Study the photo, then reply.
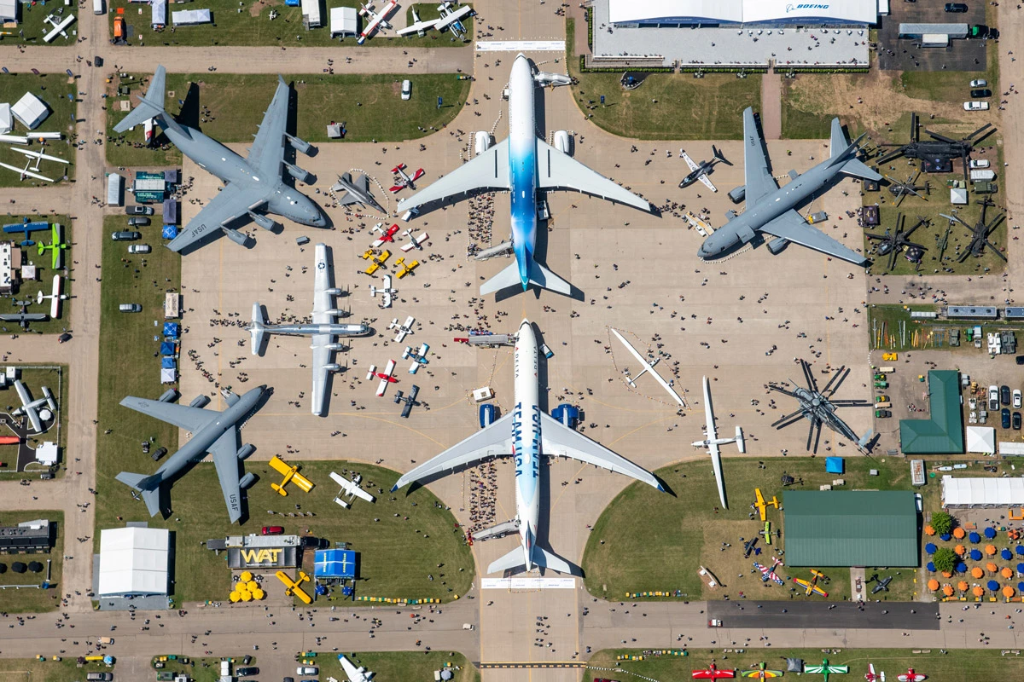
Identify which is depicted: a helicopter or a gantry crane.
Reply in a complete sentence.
Visible in the photo is a helicopter.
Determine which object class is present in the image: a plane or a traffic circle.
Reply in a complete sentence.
Visible in the photo is a plane.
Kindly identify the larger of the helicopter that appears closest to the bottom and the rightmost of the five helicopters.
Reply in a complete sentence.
Of the two, the helicopter that appears closest to the bottom is larger and the rightmost of the five helicopters is the smaller one.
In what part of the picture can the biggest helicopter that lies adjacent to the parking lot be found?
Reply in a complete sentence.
You can find the biggest helicopter that lies adjacent to the parking lot in the top right area of the picture.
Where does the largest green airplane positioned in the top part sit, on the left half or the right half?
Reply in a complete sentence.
The largest green airplane positioned in the top part sits on the left side.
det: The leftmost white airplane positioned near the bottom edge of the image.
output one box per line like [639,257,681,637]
[334,652,373,682]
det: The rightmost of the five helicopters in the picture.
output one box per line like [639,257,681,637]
[952,193,1007,262]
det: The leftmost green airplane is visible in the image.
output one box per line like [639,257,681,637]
[37,222,68,267]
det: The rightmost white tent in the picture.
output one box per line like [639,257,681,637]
[941,479,1024,507]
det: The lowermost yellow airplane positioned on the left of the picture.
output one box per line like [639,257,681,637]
[277,572,309,602]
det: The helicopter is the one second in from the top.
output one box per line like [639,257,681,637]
[885,168,937,204]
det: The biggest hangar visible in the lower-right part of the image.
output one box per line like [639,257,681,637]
[782,490,917,569]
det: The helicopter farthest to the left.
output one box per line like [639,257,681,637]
[767,357,867,454]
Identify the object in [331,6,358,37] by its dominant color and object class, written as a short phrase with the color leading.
white tent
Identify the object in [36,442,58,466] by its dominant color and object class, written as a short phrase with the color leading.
white tent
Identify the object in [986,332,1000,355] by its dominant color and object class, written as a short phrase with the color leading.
white vehicle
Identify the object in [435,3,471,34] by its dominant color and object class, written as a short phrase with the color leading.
white airplane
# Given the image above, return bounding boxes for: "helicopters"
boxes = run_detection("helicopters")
[865,212,932,268]
[875,112,992,179]
[952,193,1007,262]
[767,357,867,454]
[885,168,937,204]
